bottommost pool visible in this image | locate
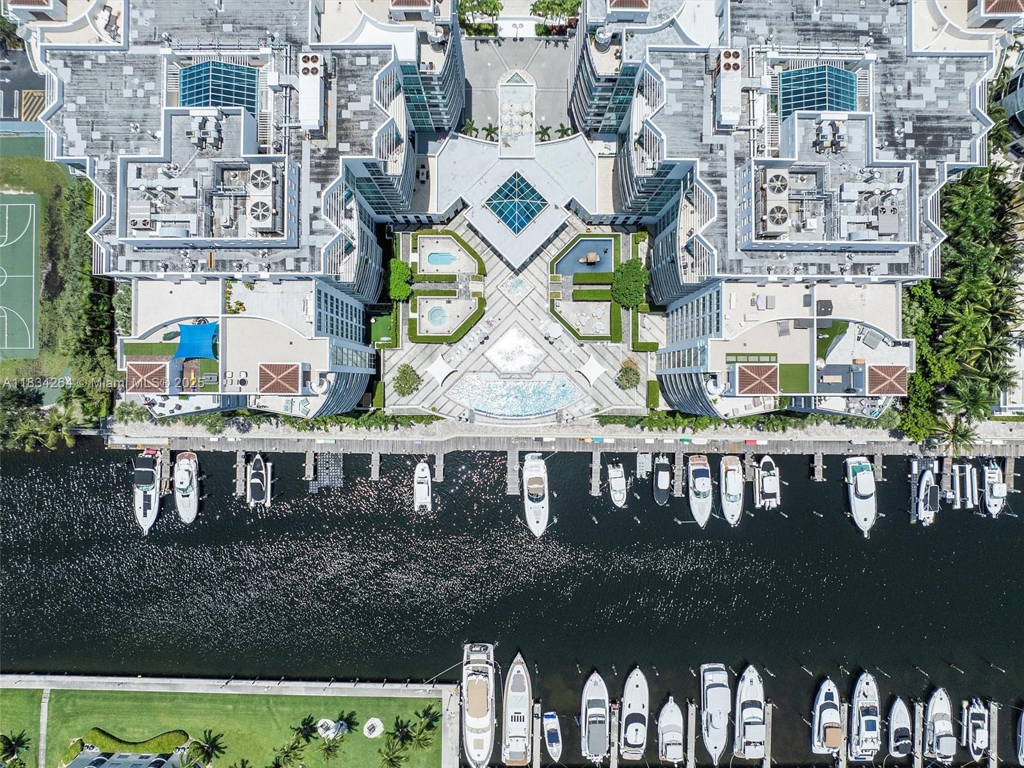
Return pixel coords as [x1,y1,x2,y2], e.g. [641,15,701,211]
[442,371,590,419]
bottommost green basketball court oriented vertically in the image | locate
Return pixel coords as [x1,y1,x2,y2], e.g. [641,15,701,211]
[0,194,40,358]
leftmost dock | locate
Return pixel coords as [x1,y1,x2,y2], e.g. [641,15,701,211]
[158,450,174,494]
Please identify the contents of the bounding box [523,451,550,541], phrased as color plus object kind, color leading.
white boat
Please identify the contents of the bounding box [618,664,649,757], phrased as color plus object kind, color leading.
white boat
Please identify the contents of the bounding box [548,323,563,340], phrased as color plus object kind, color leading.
white umbrella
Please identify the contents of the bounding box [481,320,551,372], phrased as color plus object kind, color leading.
white swimming pool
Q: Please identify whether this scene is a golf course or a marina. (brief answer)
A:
marina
